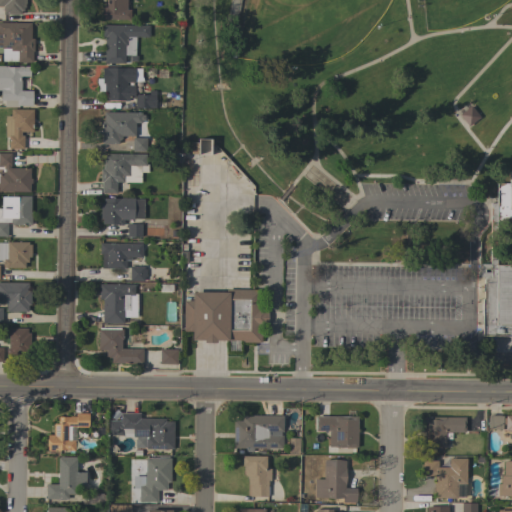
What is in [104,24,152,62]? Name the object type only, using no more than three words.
house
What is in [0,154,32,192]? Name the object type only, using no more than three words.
house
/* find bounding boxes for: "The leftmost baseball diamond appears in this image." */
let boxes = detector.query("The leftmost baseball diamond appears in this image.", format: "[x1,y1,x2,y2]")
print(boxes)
[232,0,390,64]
